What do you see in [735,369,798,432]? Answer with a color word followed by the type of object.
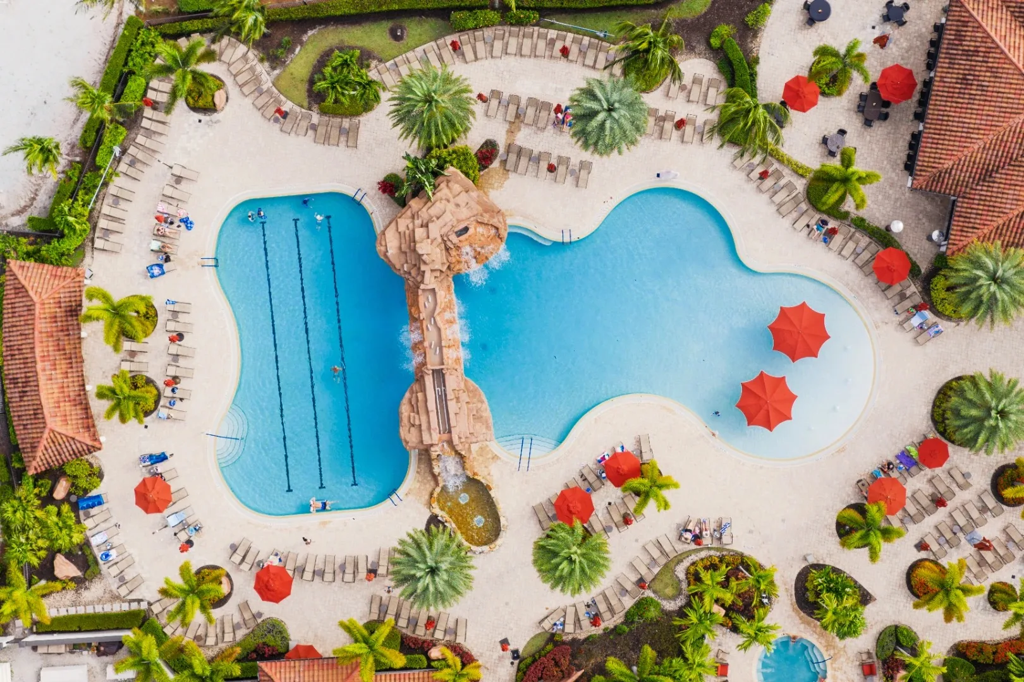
red umbrella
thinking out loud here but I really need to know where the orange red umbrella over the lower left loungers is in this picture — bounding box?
[134,476,172,513]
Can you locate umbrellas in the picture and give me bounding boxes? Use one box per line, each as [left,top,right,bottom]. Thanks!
[871,247,910,285]
[554,486,593,524]
[767,299,831,364]
[783,76,819,112]
[255,565,292,602]
[134,476,172,513]
[735,369,798,432]
[604,450,641,488]
[916,437,949,469]
[876,64,916,104]
[286,643,321,659]
[867,476,906,511]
